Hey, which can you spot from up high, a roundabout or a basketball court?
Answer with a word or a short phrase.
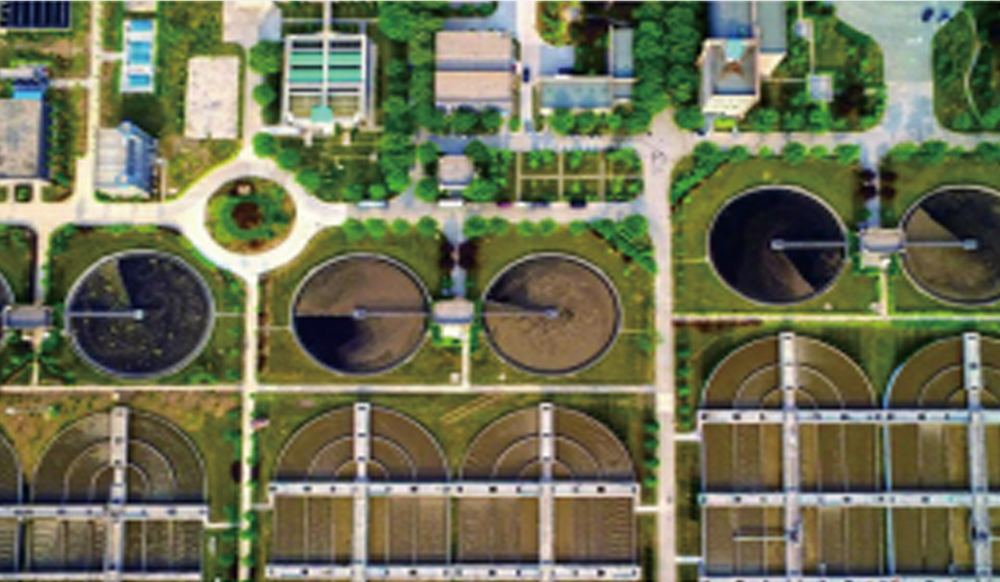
roundabout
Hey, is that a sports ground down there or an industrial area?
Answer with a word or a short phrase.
industrial area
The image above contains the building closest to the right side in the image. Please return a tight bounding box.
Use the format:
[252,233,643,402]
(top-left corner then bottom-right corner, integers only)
[856,229,903,252]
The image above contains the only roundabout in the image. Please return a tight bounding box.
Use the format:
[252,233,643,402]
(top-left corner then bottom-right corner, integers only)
[206,178,297,252]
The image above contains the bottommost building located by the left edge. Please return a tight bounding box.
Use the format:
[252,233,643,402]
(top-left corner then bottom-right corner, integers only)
[3,306,58,328]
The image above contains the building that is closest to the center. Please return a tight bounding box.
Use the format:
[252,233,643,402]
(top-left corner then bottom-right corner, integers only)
[433,301,474,323]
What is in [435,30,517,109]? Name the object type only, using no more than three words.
building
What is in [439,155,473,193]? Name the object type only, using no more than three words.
house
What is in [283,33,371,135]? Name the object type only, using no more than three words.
building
